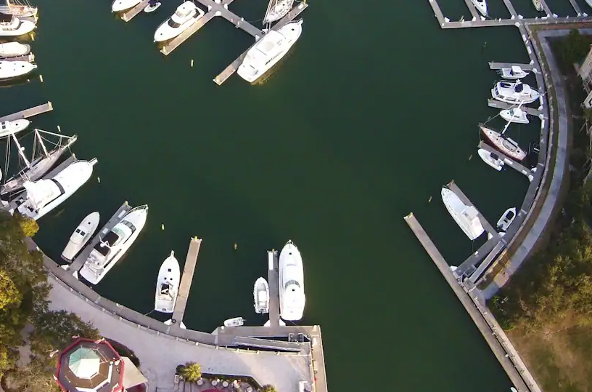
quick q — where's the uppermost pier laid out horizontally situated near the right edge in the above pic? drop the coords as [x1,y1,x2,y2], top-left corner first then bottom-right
[438,15,592,32]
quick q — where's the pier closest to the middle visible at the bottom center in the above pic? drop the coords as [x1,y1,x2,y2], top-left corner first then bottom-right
[260,251,289,327]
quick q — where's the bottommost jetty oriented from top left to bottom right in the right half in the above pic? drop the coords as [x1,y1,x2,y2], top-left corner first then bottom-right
[403,215,531,392]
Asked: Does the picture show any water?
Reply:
Yes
